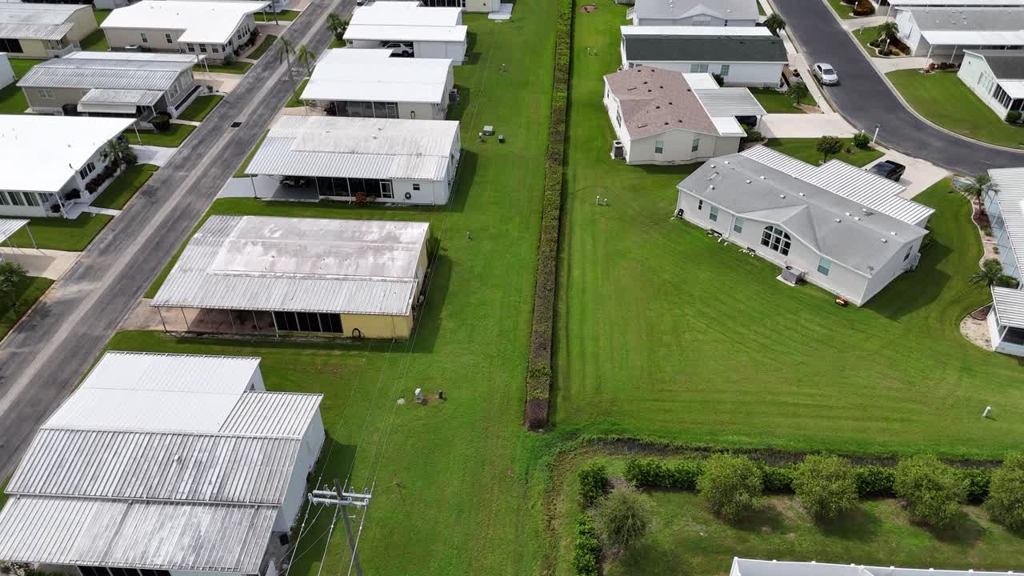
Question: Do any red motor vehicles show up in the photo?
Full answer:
No, there's no red motor vehicle here.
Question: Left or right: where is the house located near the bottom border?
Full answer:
The house located near the bottom border is on the left side of the image.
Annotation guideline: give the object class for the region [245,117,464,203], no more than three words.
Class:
house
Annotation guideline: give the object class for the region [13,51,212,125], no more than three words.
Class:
house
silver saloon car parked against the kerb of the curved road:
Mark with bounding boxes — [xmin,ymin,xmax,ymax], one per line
[814,64,838,83]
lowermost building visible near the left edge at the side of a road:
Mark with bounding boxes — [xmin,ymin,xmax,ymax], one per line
[0,347,324,576]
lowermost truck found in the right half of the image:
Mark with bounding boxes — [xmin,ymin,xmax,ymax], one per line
[869,160,905,182]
